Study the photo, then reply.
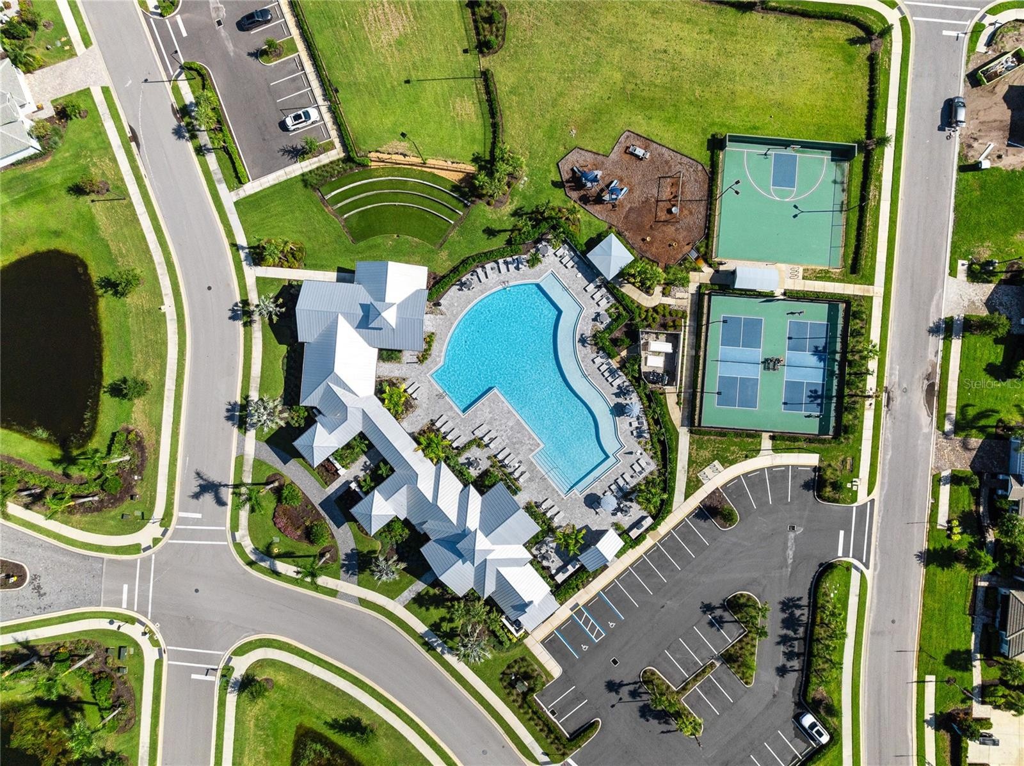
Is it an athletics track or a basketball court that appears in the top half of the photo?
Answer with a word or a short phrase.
basketball court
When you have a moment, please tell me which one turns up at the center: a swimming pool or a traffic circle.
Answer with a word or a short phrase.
swimming pool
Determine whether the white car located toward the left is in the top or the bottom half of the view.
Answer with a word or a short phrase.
top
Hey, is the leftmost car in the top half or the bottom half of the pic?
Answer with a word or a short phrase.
top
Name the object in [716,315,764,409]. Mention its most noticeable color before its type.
blue sports court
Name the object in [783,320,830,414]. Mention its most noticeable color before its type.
blue sports court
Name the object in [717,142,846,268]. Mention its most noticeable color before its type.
green basketball court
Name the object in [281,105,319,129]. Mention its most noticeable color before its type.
white car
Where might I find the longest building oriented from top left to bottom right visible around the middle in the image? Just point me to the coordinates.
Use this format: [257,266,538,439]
[292,261,560,632]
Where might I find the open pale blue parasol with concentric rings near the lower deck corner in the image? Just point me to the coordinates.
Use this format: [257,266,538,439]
[600,494,617,510]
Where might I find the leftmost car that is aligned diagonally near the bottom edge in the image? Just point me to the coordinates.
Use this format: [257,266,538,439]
[798,712,832,746]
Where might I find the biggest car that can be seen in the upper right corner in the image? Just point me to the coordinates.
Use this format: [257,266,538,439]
[949,93,970,128]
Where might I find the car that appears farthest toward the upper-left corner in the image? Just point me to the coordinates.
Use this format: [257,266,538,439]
[236,5,273,29]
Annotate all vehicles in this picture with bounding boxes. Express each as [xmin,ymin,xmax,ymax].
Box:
[281,105,319,129]
[798,712,832,746]
[630,142,651,158]
[949,93,970,128]
[236,5,273,29]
